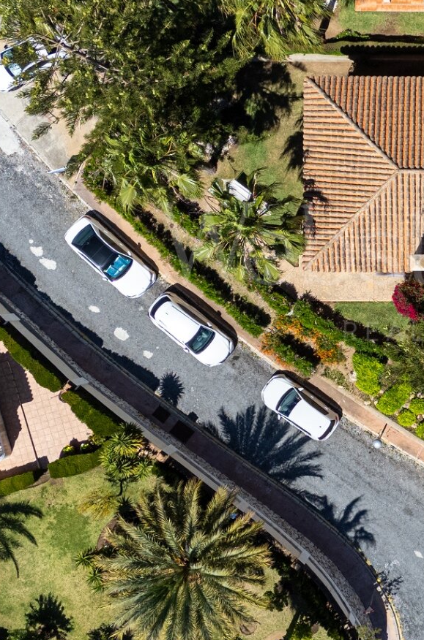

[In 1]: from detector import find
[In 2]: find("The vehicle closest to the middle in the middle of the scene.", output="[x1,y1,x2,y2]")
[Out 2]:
[142,290,243,367]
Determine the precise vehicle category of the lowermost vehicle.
car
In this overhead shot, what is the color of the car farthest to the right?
white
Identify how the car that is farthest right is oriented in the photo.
at an angle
